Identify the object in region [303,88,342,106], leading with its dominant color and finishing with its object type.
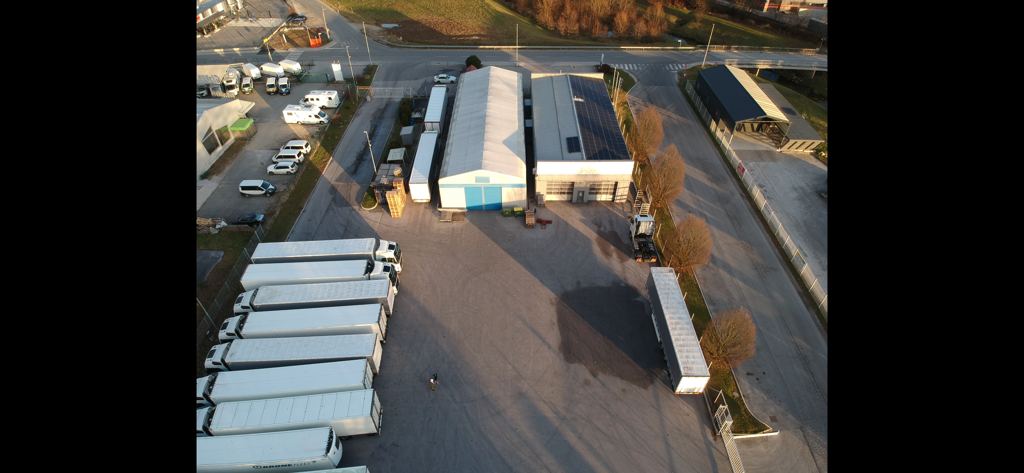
white camper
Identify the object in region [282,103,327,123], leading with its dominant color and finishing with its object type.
white camper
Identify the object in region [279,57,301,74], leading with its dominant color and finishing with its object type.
white vehicle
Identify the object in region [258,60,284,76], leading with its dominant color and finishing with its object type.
white vehicle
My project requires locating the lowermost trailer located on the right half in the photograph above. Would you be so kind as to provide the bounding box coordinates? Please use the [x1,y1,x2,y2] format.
[646,269,710,396]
